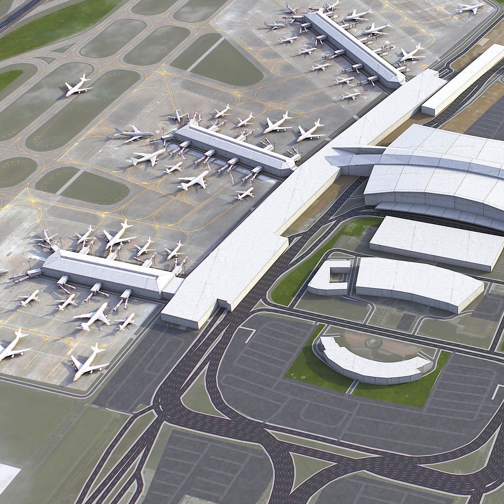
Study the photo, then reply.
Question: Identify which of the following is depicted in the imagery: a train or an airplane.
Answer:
airplane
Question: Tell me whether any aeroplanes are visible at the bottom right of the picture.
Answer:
No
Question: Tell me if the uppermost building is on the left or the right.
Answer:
right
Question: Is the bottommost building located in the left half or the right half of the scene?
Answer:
right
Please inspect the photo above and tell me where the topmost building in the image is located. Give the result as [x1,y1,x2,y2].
[421,43,504,116]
